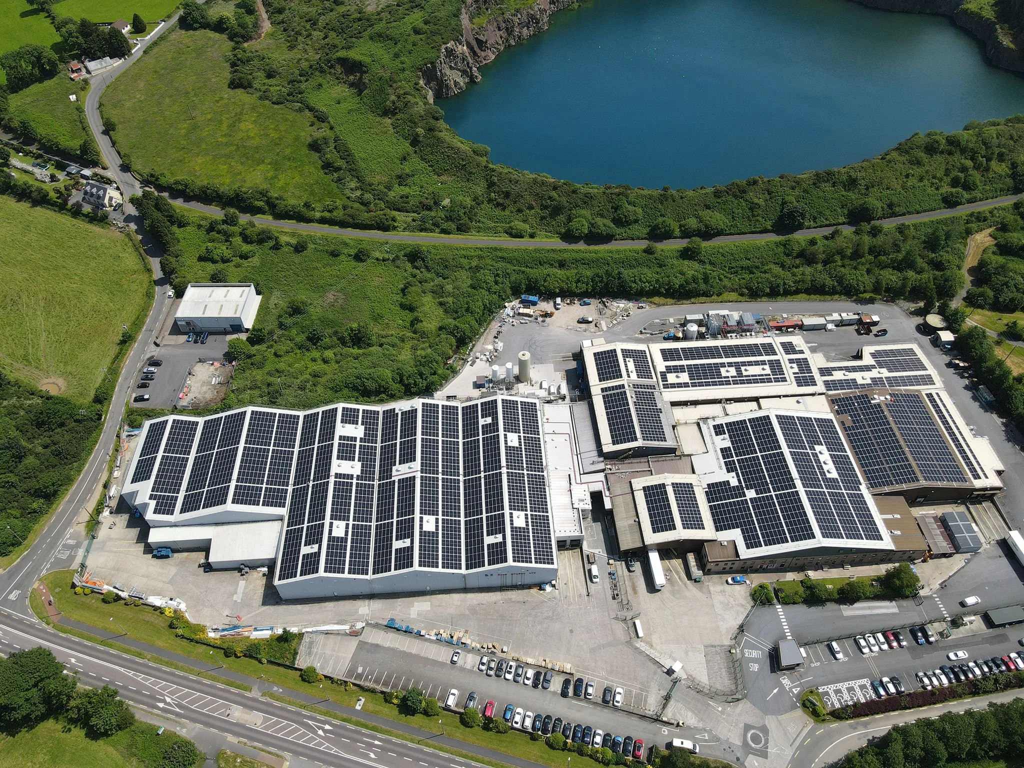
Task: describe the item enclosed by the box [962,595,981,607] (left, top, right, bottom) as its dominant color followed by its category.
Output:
white vehicle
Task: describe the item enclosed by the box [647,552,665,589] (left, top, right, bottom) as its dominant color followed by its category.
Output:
white vehicle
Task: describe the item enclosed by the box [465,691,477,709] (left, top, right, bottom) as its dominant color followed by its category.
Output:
gray vehicle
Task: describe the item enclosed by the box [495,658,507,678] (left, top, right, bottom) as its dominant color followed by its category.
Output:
gray vehicle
